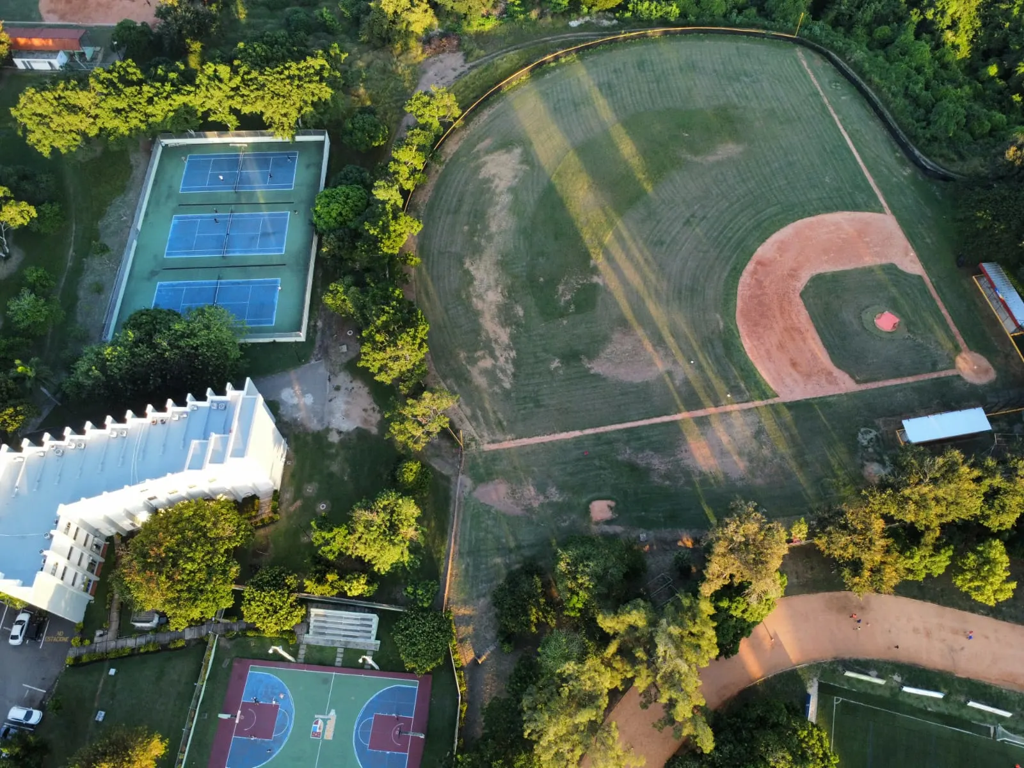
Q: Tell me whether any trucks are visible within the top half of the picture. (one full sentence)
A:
No, I see no truck within the top half of the picture.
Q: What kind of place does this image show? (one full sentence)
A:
This looks like a sports ground.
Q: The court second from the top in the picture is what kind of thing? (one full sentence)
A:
Specifically, the court second from the top is a tennis court.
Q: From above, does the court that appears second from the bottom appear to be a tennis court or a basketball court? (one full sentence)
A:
I'd identify the court that appears second from the bottom as a tennis court.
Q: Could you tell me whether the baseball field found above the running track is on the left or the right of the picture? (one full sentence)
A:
The baseball field found above the running track is on the right side of the image.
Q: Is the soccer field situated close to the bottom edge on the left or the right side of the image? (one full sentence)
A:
It is on the right.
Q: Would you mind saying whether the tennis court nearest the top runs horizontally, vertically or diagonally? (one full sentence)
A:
In this picture, the tennis court nearest the top lies horizontally.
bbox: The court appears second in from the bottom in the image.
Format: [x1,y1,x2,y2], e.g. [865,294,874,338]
[153,274,281,327]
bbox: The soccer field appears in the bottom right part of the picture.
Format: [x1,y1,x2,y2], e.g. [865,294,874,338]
[814,680,1024,768]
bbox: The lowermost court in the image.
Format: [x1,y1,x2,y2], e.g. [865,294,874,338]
[208,657,432,768]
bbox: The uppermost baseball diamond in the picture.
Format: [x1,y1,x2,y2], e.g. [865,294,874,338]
[404,35,1024,605]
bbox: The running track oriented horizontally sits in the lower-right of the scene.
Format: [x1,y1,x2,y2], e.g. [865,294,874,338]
[579,591,1024,768]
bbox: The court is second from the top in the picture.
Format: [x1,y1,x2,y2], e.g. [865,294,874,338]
[165,207,289,258]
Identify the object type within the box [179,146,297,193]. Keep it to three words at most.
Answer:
tennis court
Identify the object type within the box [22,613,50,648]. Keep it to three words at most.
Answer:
truck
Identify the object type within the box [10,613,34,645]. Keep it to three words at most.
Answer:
car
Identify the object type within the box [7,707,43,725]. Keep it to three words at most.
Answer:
car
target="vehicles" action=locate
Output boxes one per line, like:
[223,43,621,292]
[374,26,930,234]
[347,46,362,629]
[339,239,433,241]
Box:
[0,725,20,743]
[22,613,50,648]
[10,613,34,645]
[7,707,43,725]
